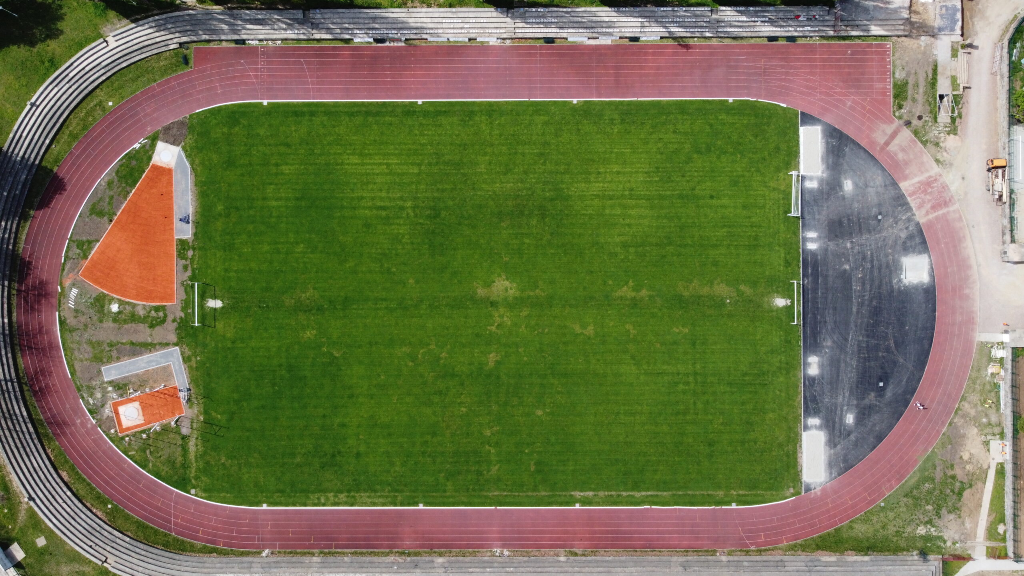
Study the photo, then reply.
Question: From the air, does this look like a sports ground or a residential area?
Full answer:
This image shows a sports ground.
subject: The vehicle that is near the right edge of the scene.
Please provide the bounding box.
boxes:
[983,160,1008,209]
